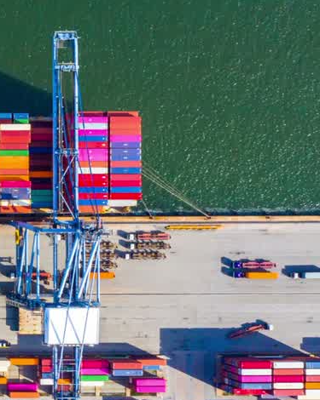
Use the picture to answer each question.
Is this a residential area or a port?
port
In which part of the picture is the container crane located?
left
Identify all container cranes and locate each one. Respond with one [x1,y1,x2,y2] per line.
[0,31,114,400]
